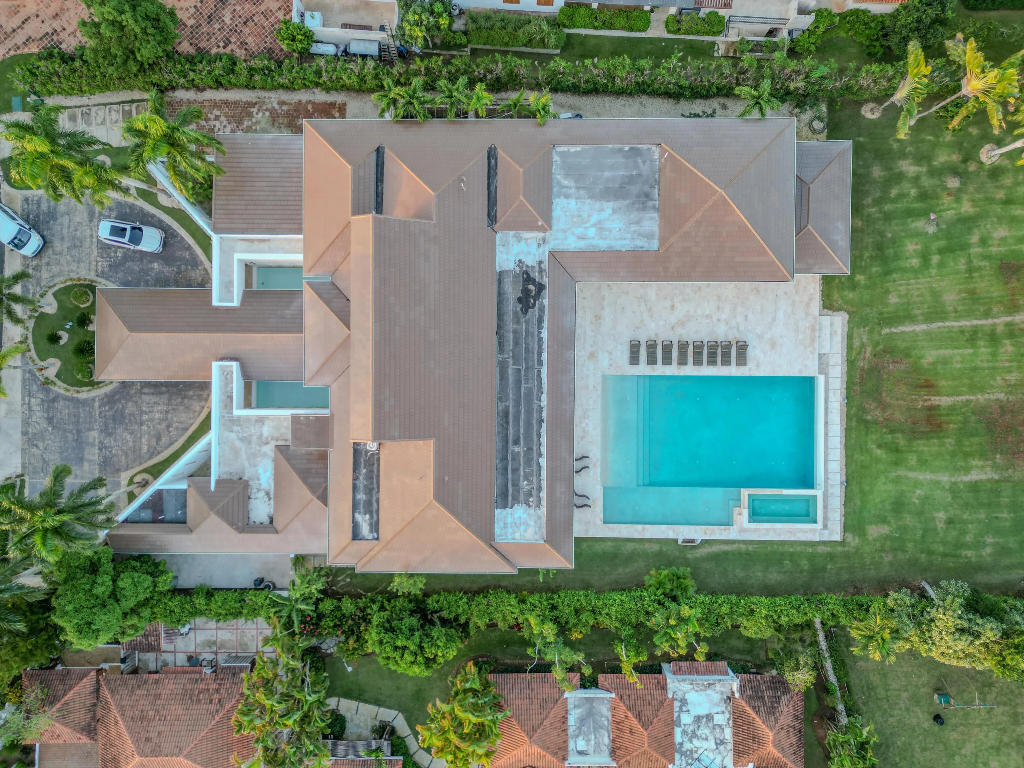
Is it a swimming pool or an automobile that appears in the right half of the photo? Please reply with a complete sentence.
What appears in the right half of the photo is a swimming pool.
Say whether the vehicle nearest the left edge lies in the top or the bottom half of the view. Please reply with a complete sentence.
Seen from above, the vehicle nearest the left edge lies in the top half of the view.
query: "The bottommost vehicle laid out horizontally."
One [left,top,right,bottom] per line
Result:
[93,217,168,255]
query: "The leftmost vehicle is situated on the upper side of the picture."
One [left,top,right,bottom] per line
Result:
[0,199,46,256]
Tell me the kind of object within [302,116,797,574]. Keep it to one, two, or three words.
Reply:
house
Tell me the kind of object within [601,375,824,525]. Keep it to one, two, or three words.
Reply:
swimming pool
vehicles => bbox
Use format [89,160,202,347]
[0,199,46,256]
[93,217,168,255]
